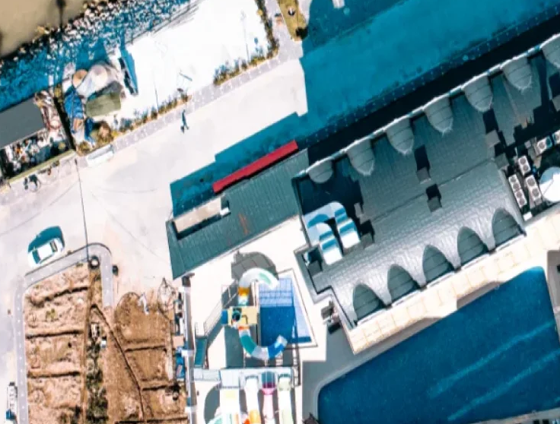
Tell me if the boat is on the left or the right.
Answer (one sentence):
The boat sits on the left side.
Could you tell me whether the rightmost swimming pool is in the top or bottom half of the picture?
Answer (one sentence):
The rightmost swimming pool is in the bottom half of the image.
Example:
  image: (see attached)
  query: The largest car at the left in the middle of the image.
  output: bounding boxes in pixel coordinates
[23,235,65,265]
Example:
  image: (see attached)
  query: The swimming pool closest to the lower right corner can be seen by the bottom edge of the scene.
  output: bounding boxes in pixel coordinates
[313,264,560,424]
